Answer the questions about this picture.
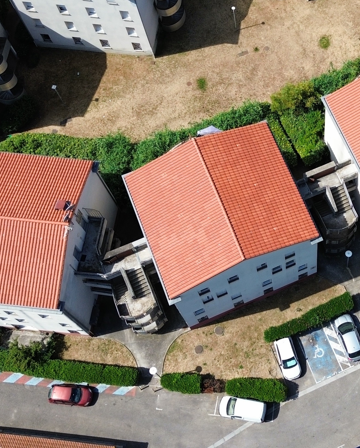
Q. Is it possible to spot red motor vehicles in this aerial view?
Yes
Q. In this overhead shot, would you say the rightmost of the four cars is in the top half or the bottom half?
bottom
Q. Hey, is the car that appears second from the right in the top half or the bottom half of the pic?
bottom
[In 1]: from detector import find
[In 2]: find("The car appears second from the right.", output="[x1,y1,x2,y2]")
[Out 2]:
[272,334,304,384]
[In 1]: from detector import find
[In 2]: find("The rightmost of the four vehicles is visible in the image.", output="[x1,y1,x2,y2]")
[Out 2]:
[333,314,360,364]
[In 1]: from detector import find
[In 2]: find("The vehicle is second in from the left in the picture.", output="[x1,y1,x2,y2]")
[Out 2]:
[217,394,268,422]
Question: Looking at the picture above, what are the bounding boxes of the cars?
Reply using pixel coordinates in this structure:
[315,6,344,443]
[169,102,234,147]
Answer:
[217,394,268,422]
[333,314,360,364]
[46,384,94,407]
[272,334,304,384]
